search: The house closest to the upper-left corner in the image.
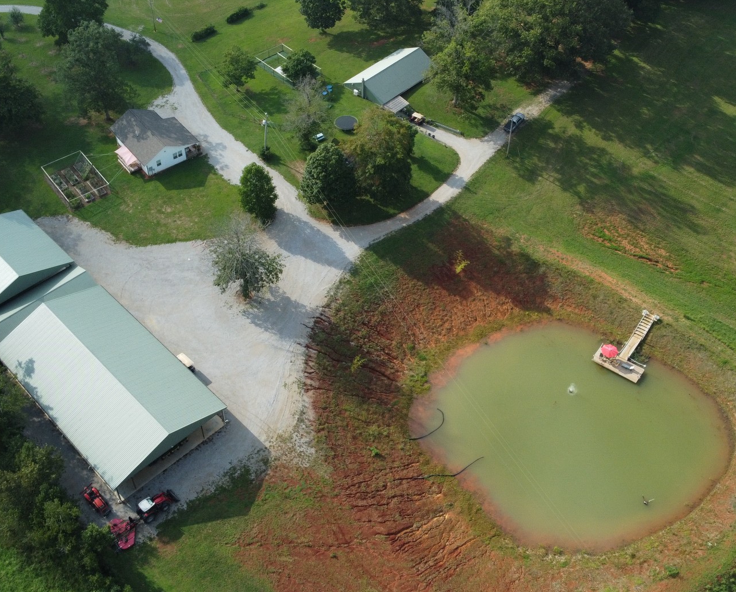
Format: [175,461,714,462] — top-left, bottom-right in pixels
[110,110,200,176]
